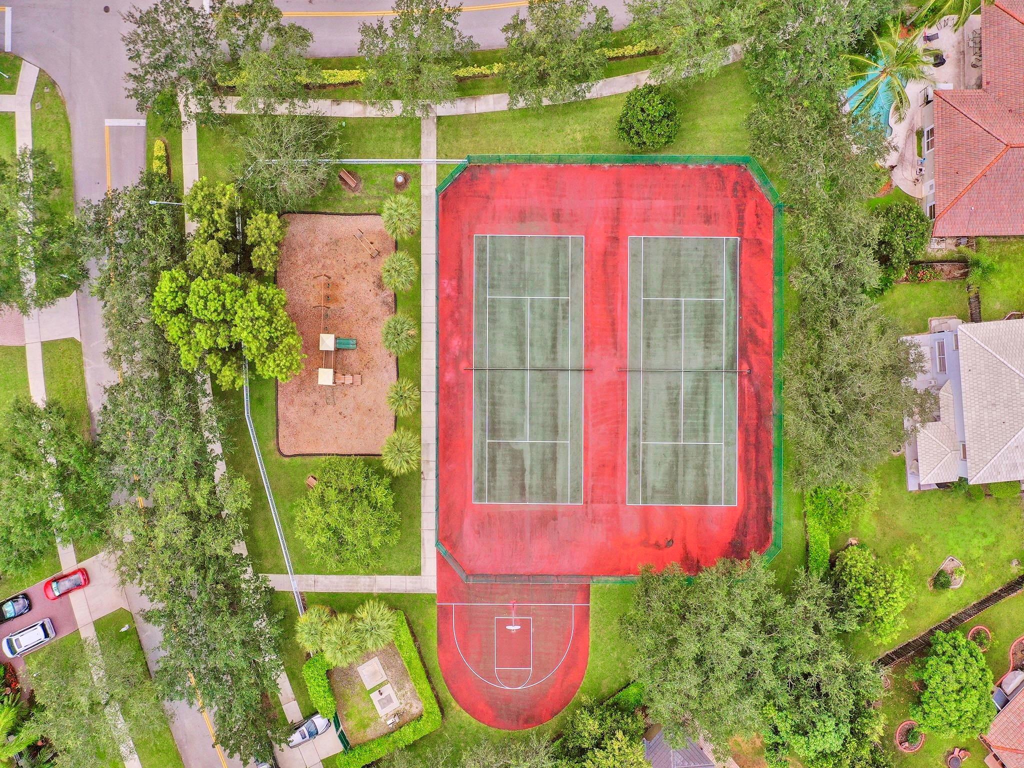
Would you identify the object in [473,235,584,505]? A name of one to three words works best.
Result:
tennis court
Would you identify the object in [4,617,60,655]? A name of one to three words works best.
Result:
car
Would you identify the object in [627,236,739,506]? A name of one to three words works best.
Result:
tennis court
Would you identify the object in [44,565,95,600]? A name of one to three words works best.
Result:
car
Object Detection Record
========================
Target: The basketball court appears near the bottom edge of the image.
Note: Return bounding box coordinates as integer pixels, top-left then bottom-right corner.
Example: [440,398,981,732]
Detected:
[437,549,591,731]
